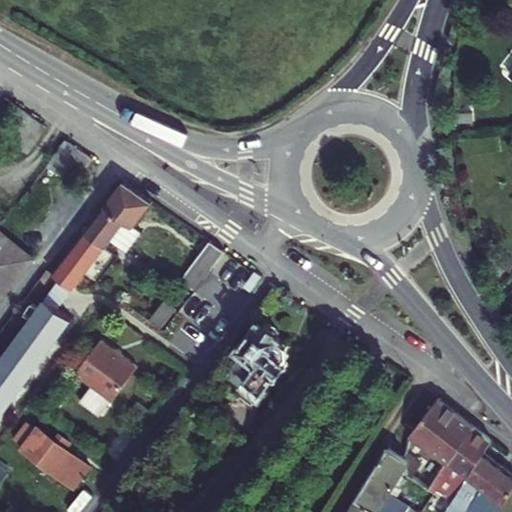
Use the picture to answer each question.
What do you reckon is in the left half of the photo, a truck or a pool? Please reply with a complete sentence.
It is a truck that can be seen in the left half of the photo.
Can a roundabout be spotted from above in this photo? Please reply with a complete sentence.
Yes, the picture does show a roundabout.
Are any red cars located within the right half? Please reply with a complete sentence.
Yes, a red car can be seen within the right half.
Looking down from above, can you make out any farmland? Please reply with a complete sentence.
No, no farmland is visible.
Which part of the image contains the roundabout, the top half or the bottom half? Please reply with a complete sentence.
You can find the roundabout in the top half.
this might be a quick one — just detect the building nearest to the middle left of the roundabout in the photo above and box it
[186,243,224,287]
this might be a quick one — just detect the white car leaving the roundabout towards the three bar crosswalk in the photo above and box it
[362,252,385,272]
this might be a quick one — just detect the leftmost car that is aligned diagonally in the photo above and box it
[19,302,36,322]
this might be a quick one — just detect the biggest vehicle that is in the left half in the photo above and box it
[116,105,186,144]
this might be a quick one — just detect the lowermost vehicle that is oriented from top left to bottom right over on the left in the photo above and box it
[183,324,204,343]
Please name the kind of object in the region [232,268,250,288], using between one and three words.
car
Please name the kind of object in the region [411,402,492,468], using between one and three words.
house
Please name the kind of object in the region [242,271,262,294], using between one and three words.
vehicle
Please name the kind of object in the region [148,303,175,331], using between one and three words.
shed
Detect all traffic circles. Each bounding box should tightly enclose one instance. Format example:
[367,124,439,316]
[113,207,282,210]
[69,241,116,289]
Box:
[267,89,433,258]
